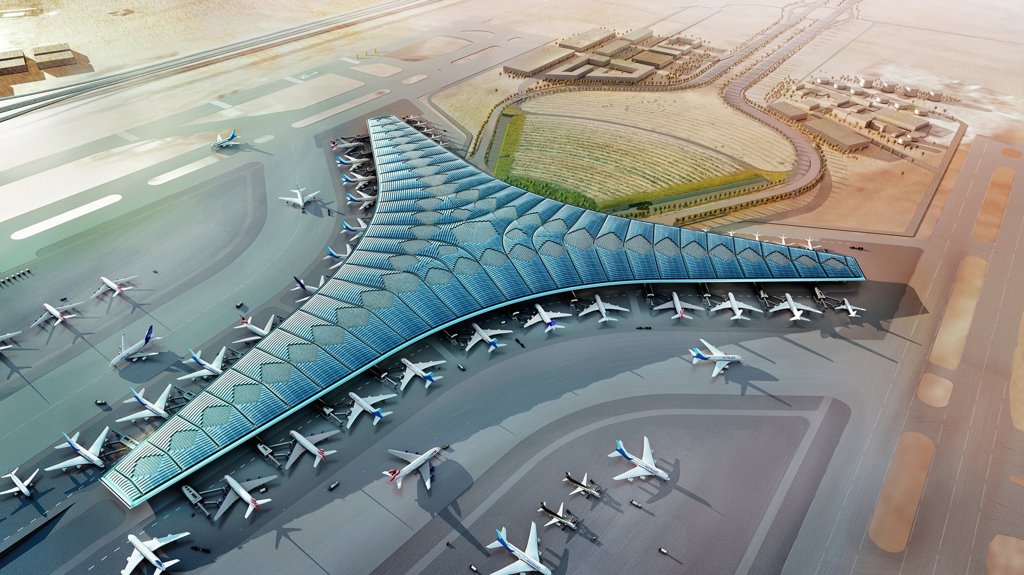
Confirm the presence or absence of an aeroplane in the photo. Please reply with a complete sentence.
Yes, the picture does show an aeroplane.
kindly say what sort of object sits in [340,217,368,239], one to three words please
airplane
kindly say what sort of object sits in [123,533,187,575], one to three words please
airplane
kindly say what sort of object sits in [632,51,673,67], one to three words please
building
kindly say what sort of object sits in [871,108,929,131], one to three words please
building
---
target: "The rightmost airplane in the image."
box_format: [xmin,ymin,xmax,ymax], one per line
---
[835,298,866,318]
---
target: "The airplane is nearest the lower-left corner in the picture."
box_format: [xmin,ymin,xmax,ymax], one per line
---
[0,468,36,496]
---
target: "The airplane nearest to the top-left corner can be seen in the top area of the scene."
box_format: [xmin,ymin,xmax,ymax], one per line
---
[209,131,240,147]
